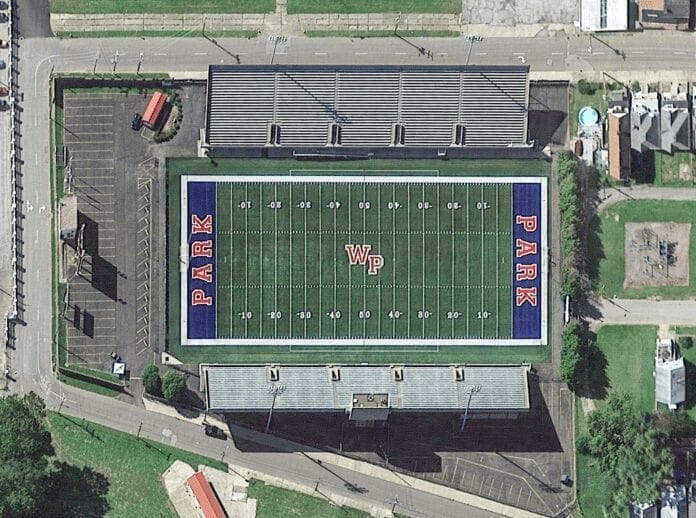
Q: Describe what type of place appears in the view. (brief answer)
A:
sports ground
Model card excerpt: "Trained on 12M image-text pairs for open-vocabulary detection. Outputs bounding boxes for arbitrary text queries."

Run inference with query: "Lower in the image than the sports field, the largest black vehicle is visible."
[207,427,226,439]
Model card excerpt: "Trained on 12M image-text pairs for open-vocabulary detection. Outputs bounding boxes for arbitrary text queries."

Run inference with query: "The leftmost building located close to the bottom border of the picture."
[187,472,226,518]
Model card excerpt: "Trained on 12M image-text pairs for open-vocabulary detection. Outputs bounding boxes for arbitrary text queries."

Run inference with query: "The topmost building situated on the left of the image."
[143,92,168,129]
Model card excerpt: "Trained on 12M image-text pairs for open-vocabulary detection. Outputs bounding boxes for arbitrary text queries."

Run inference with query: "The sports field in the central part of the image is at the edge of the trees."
[166,157,551,364]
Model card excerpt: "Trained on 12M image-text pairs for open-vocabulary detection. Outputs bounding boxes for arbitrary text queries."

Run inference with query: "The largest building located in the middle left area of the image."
[58,196,77,243]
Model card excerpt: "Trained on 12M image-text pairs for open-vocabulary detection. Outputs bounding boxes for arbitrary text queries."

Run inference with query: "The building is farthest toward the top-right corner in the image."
[639,0,690,31]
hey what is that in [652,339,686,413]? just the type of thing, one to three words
house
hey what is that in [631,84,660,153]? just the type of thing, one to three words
house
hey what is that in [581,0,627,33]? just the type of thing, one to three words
building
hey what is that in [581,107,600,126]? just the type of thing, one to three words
swimming pool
